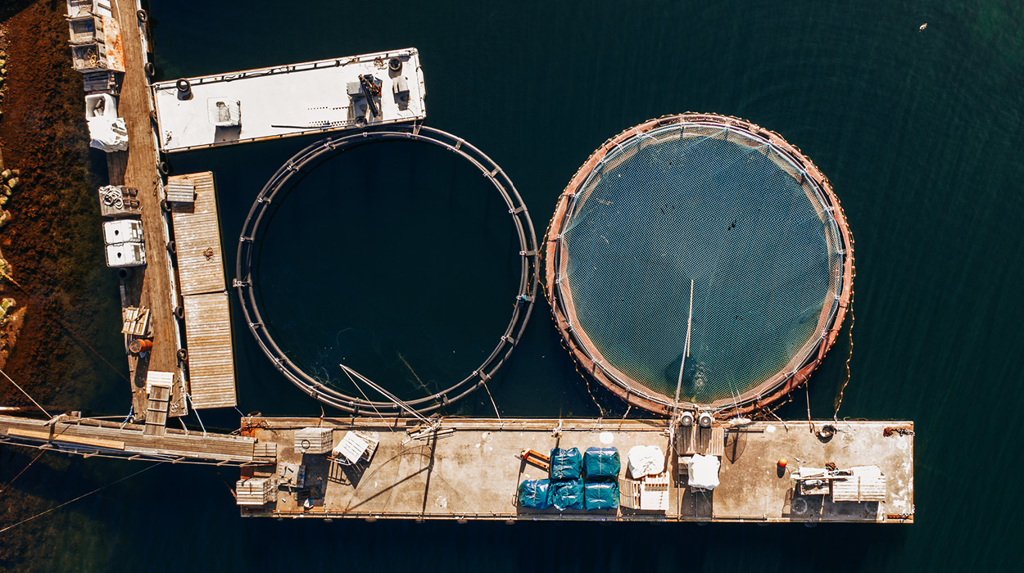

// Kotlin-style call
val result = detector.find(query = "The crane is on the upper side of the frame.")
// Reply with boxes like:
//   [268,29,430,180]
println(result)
[352,66,388,122]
